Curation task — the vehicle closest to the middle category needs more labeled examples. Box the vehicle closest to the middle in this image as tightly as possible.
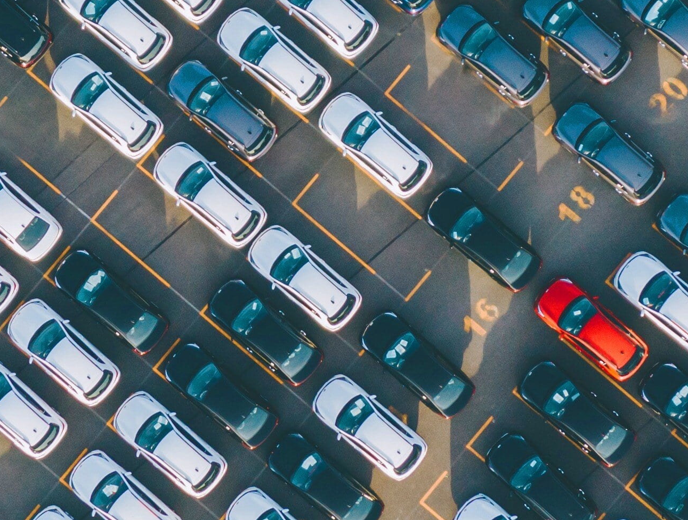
[249,227,364,332]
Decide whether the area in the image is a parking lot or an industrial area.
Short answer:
parking lot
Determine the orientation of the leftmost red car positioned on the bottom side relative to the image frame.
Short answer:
diagonally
